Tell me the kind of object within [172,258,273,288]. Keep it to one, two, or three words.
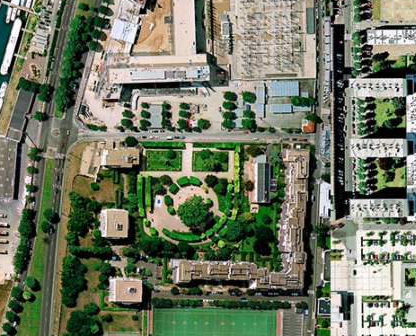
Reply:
house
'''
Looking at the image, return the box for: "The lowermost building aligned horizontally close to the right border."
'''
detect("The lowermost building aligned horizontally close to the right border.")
[350,199,407,218]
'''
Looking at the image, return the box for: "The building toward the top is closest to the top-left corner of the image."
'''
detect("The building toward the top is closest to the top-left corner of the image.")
[9,89,35,130]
